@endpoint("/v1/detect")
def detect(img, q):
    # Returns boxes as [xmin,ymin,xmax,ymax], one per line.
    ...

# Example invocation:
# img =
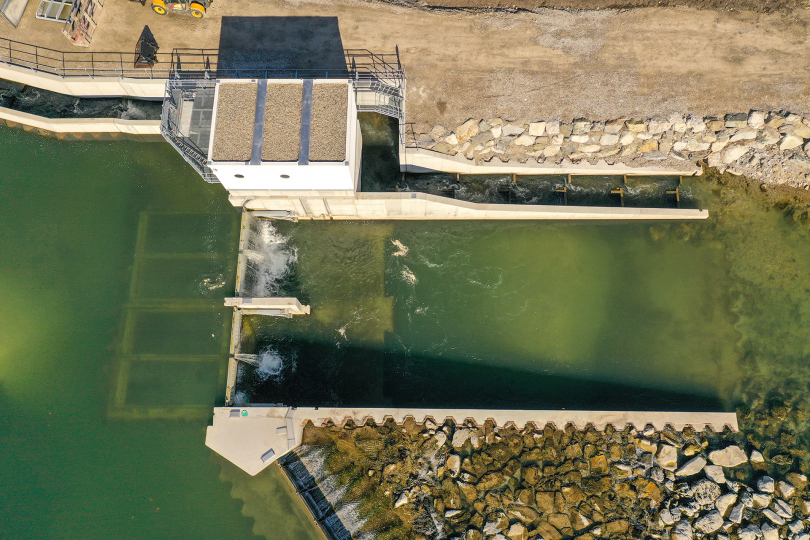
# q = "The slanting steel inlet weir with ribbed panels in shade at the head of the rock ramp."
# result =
[278,448,357,540]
